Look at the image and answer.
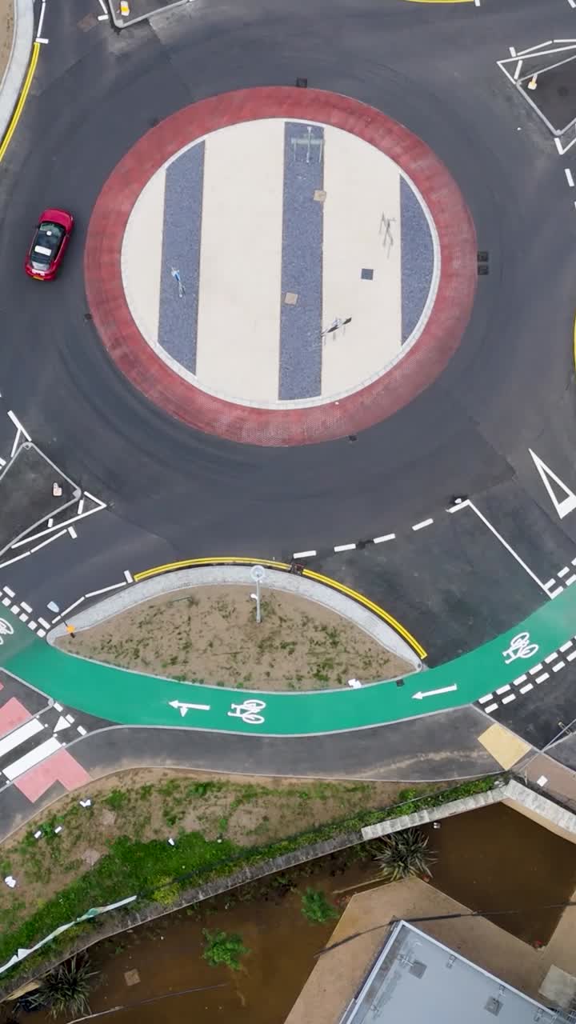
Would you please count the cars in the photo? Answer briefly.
one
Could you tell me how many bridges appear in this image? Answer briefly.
0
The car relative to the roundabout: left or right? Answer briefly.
to its left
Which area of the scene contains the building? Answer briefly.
bottom right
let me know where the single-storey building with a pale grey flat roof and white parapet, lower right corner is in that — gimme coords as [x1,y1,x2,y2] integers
[331,922,562,1024]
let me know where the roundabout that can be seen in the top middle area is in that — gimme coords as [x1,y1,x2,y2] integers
[83,87,478,446]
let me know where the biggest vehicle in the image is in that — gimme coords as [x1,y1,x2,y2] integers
[25,211,74,283]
